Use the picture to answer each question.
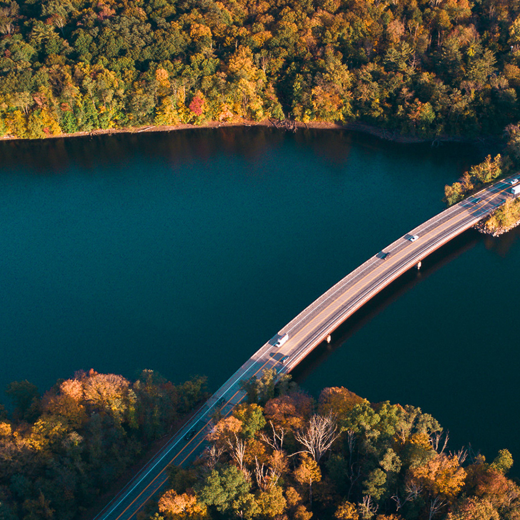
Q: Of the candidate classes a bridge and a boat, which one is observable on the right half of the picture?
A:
bridge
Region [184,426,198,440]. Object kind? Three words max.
vehicle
